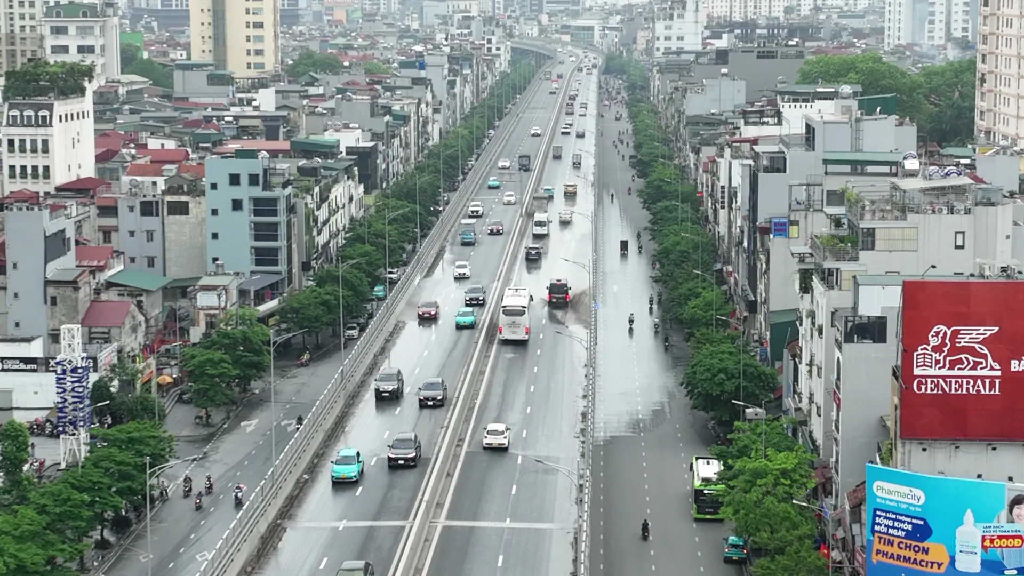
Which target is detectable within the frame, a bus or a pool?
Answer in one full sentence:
It is a bus that can be seen here.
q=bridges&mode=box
[187,32,607,576]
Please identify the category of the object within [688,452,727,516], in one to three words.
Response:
bus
